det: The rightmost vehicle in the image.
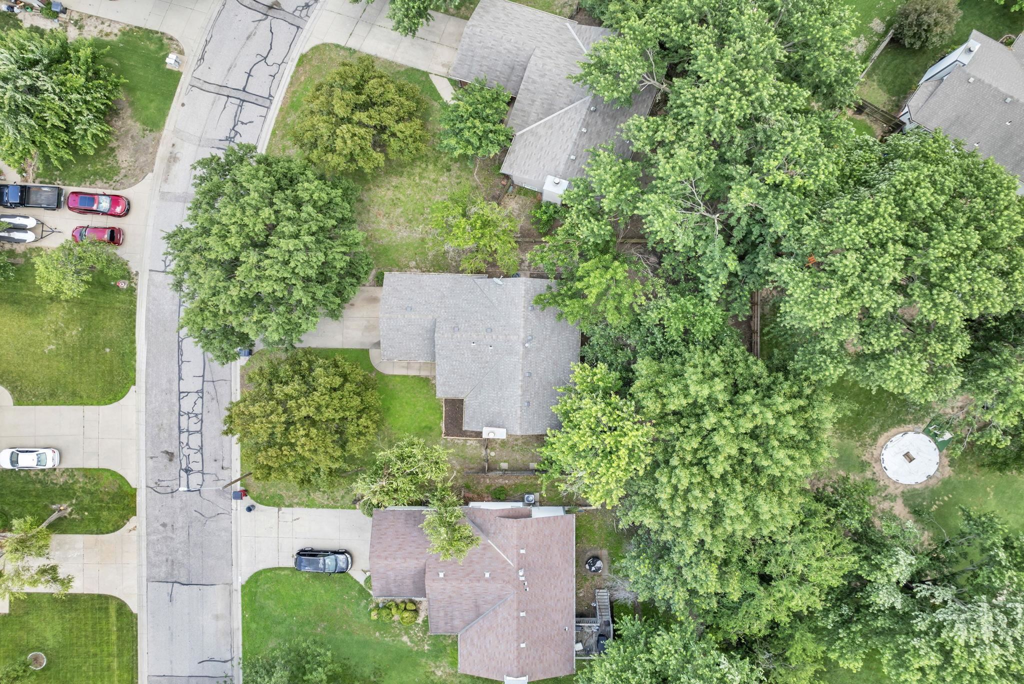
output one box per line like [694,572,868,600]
[296,545,354,576]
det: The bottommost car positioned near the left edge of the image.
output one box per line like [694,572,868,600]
[0,445,62,472]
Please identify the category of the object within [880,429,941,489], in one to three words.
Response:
swimming pool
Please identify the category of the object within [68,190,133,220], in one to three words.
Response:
car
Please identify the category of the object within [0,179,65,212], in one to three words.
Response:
truck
